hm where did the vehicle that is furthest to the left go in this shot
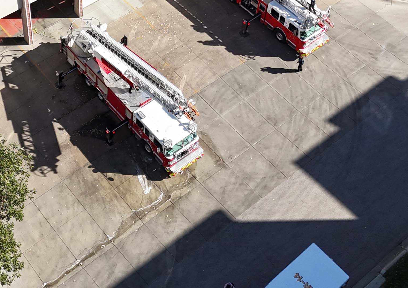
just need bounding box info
[54,16,216,174]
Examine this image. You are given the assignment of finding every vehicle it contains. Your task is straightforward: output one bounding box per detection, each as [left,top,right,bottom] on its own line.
[54,16,216,174]
[261,244,349,288]
[227,0,344,57]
